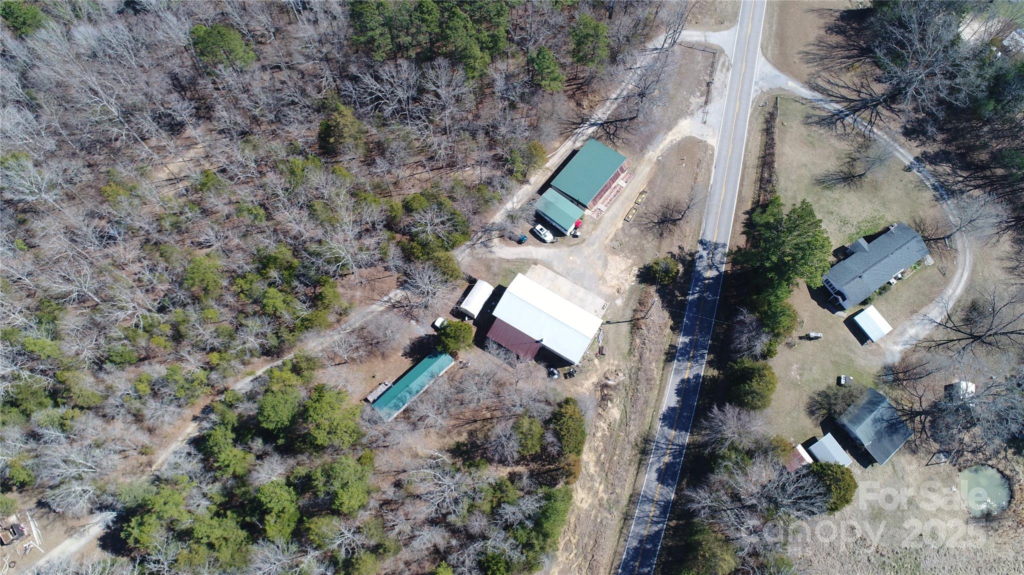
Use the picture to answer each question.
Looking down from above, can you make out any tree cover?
Yes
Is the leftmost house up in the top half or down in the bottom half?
bottom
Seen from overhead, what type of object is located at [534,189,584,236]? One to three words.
building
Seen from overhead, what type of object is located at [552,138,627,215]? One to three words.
barn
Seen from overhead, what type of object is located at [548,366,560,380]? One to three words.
vehicle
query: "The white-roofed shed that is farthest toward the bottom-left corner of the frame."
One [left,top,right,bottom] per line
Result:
[460,280,494,320]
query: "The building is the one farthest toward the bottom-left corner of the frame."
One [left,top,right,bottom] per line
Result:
[373,348,452,424]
